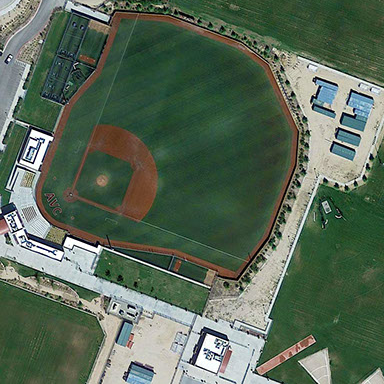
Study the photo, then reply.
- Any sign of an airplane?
No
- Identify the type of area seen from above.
sports ground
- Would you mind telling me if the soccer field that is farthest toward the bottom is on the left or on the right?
left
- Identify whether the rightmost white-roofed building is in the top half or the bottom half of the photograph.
bottom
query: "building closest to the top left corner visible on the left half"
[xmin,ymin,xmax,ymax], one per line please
[64,0,109,23]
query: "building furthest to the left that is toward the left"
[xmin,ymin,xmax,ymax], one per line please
[2,211,25,234]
